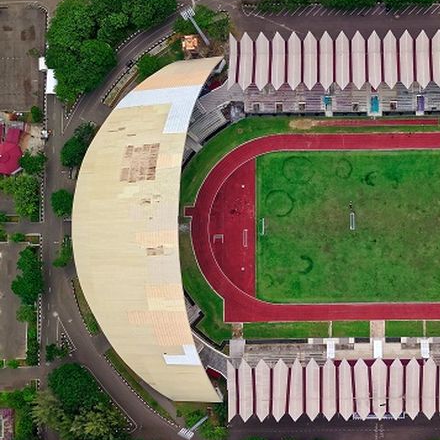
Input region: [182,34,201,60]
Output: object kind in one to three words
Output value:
shed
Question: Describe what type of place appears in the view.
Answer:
sports ground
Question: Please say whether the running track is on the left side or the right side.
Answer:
right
